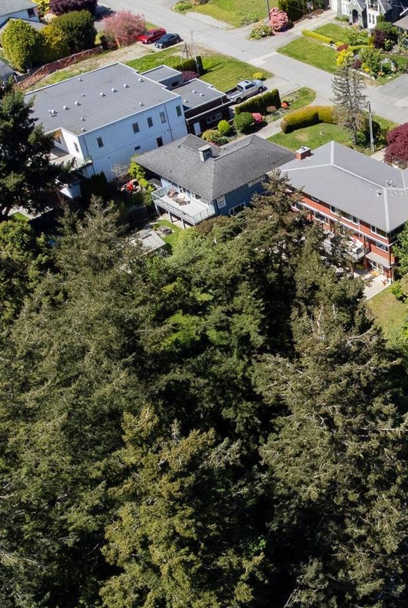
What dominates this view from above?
trees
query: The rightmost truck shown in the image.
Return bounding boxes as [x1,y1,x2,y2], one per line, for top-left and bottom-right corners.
[226,77,262,99]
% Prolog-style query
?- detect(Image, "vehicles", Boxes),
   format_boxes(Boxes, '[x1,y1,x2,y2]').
[154,31,180,45]
[137,25,165,40]
[226,77,262,99]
